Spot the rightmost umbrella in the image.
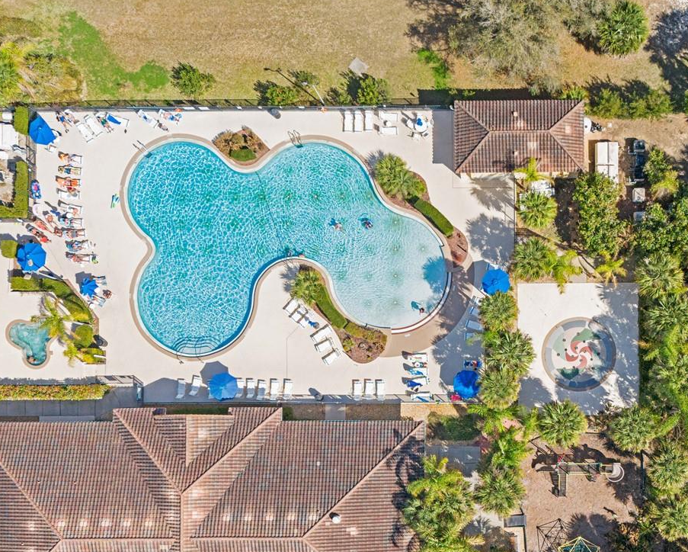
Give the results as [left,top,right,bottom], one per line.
[482,267,509,294]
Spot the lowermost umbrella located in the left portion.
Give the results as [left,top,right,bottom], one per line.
[208,371,239,401]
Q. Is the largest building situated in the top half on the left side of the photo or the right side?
right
